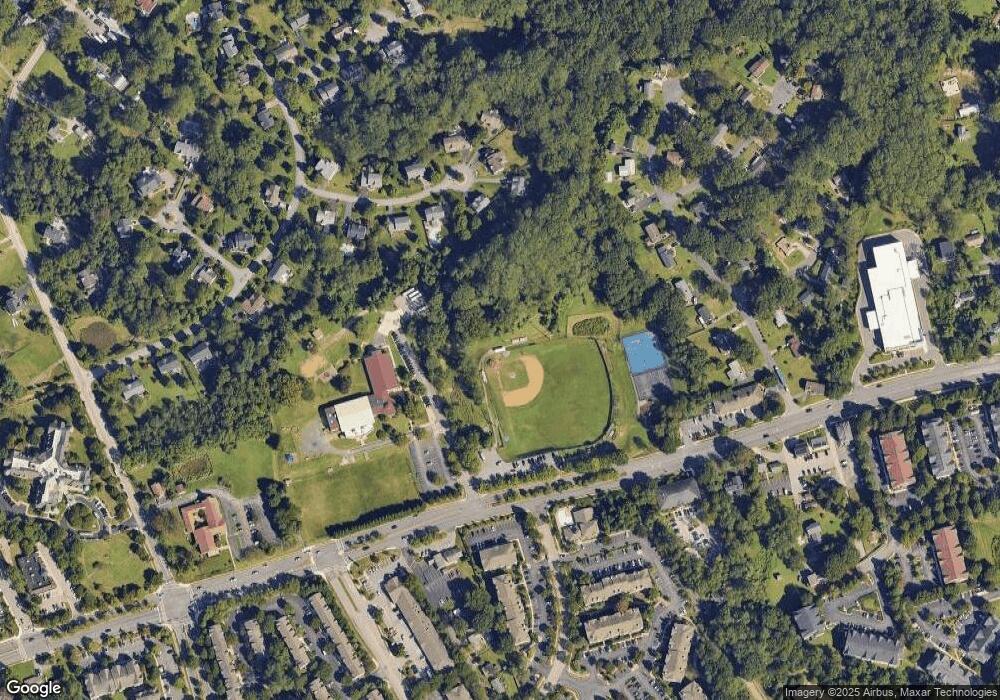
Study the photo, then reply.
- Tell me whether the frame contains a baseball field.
Yes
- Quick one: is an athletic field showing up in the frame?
Yes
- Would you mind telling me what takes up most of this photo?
trees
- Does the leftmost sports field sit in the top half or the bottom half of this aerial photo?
bottom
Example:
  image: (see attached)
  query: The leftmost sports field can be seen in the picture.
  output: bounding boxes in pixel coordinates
[291,448,417,540]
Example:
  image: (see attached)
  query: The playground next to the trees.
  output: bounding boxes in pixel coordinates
[302,352,337,382]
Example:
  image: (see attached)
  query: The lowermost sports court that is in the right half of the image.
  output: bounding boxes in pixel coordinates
[634,366,673,401]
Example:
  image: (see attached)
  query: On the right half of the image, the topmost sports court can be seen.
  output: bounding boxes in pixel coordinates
[622,330,667,375]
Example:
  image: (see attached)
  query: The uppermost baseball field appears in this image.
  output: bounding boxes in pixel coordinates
[481,337,612,463]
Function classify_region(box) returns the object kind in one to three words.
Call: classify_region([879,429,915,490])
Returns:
building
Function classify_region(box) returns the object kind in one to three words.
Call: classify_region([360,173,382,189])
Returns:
house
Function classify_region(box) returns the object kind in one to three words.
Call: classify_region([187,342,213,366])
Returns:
house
